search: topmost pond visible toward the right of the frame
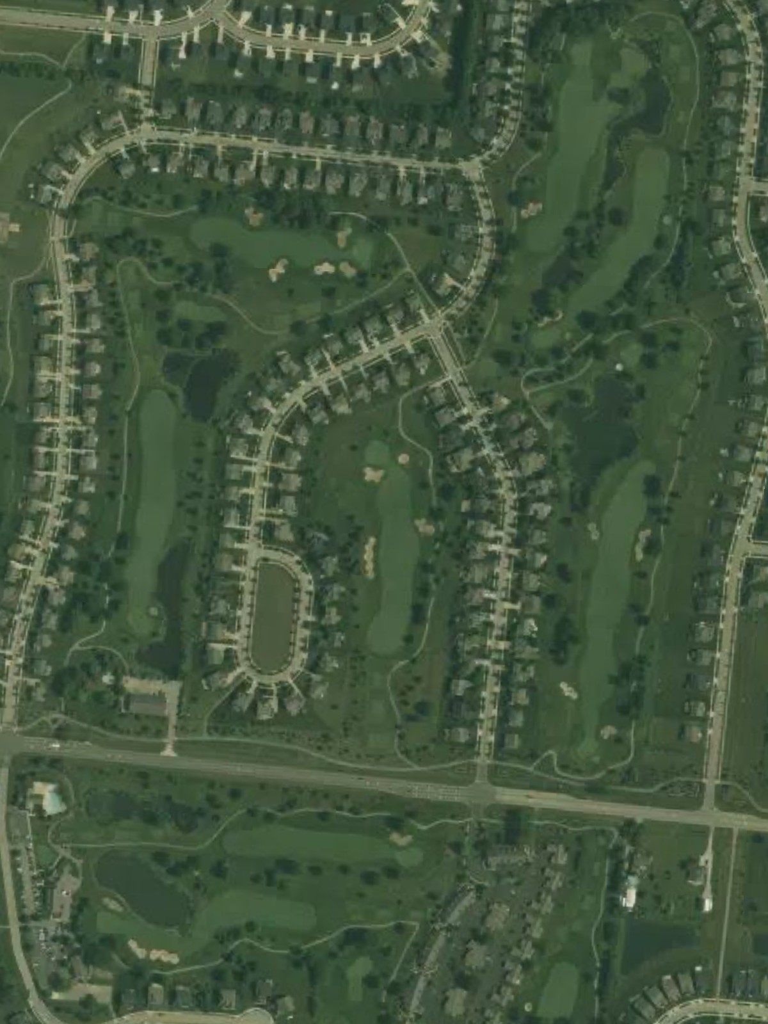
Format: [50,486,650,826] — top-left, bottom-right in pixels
[598,66,671,194]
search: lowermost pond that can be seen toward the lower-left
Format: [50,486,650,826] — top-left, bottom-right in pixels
[94,847,190,930]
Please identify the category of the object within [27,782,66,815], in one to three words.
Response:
swimming pool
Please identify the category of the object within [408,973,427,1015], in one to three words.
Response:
building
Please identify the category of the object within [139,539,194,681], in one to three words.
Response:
pond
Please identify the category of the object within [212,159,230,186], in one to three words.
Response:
house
